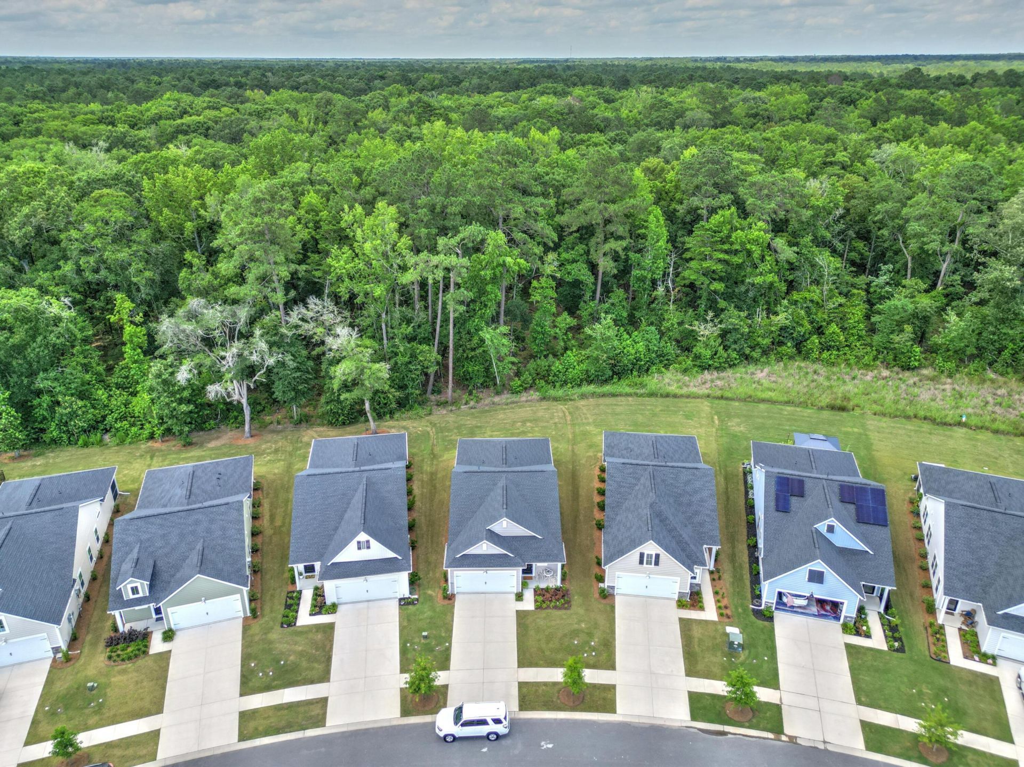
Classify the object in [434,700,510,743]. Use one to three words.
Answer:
car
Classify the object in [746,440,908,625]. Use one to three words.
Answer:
house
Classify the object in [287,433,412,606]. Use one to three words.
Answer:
house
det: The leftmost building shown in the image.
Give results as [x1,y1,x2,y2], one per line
[0,469,139,672]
